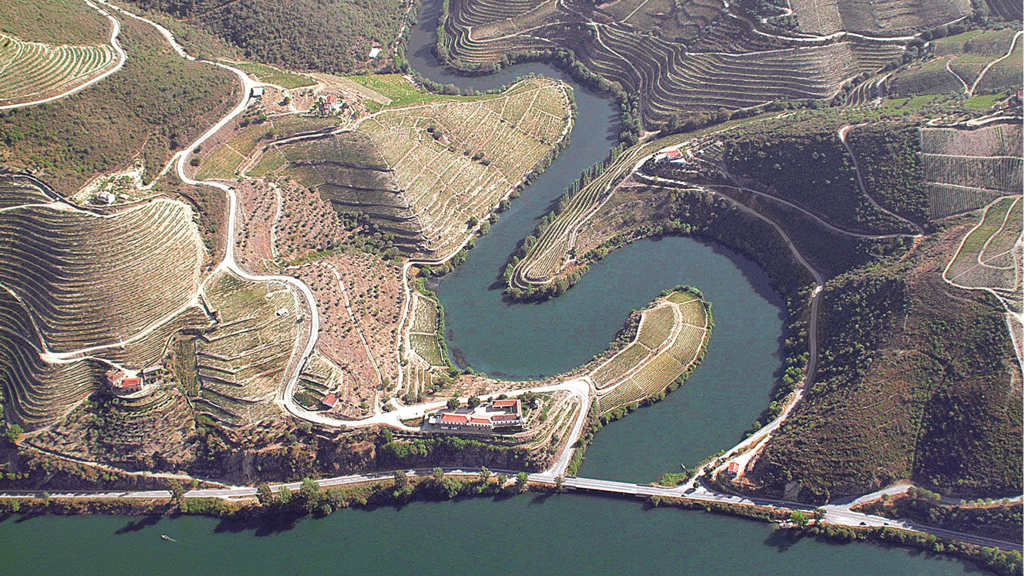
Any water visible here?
Yes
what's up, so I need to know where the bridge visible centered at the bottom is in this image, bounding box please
[562,472,657,503]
